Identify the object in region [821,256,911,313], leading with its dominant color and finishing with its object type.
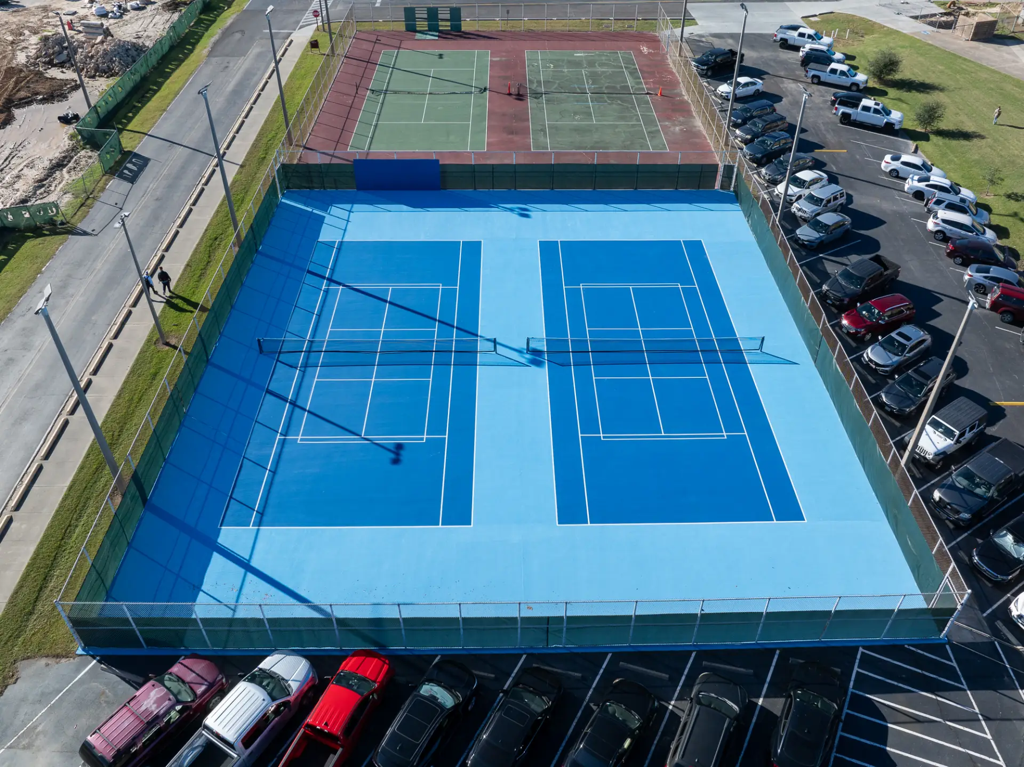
black truck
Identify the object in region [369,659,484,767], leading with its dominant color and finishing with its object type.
black car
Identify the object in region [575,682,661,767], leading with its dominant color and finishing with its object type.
black car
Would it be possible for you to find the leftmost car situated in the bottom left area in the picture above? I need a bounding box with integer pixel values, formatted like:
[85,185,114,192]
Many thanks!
[82,649,235,767]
